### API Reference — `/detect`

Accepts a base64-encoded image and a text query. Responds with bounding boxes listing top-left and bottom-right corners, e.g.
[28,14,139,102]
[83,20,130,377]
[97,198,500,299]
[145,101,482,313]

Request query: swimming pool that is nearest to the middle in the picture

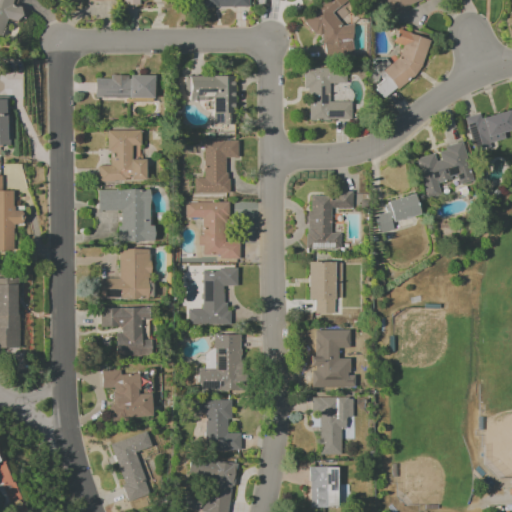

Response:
[182,228,196,253]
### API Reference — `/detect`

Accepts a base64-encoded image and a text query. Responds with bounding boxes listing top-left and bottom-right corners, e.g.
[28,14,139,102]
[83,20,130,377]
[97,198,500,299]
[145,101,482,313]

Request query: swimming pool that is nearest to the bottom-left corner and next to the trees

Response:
[183,338,210,358]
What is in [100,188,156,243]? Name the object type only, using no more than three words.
house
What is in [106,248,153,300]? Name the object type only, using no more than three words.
house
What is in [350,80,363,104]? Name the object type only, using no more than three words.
swimming pool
